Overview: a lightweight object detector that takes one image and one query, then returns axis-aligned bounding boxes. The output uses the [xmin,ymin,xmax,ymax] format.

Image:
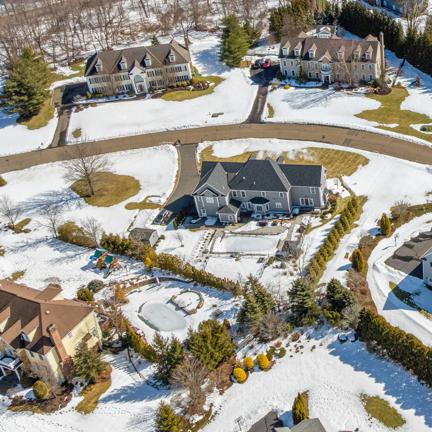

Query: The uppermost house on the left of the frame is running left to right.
[85,31,195,93]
